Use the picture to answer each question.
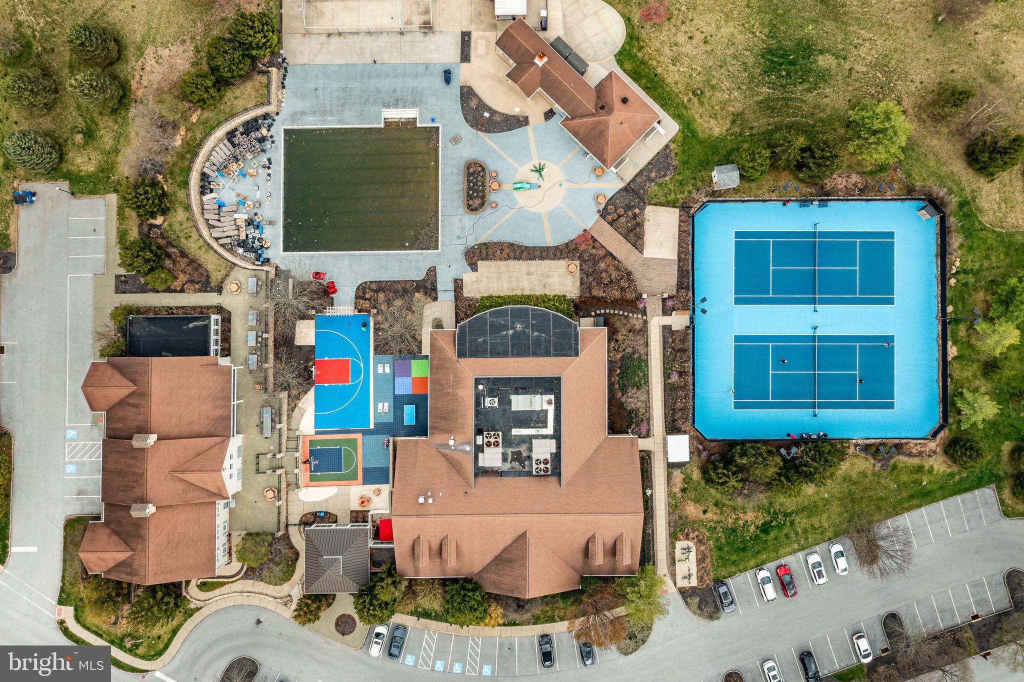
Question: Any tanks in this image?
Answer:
No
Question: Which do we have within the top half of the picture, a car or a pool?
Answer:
pool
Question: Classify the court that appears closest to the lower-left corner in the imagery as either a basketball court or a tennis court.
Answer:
basketball court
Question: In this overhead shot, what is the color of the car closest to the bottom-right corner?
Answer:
white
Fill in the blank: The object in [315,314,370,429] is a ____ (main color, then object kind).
blue basketball court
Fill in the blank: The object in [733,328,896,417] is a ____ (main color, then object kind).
blue tennis court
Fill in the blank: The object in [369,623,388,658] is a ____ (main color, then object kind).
white car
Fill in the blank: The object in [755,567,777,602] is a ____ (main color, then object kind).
white car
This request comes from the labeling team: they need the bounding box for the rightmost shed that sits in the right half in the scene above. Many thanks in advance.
[711,165,740,191]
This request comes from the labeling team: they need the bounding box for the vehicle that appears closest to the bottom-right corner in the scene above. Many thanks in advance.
[851,631,872,665]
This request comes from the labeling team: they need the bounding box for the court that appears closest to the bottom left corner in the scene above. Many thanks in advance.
[303,434,362,487]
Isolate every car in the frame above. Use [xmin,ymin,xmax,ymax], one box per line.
[369,623,388,658]
[388,625,407,659]
[806,552,827,586]
[538,634,554,668]
[799,651,820,682]
[851,631,872,665]
[714,580,735,613]
[762,657,782,682]
[828,541,848,575]
[776,564,797,598]
[578,637,595,670]
[755,567,777,602]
